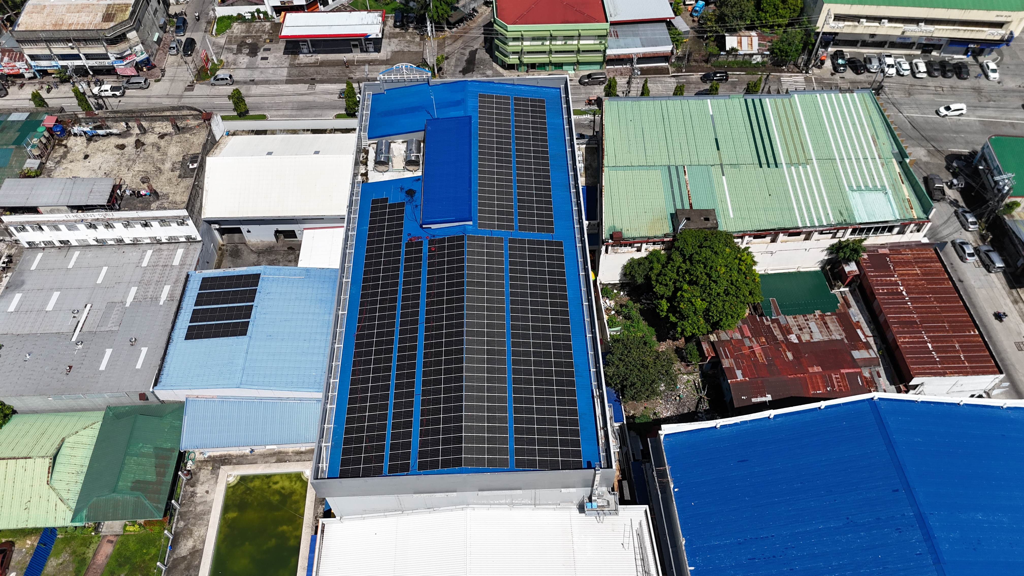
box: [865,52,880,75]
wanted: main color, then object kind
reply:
gray car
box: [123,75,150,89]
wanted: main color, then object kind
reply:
gray car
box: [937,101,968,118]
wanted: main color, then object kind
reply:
white car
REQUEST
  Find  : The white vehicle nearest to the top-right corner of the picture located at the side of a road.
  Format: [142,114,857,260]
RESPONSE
[981,62,999,80]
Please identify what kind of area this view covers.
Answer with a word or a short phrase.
industrial area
